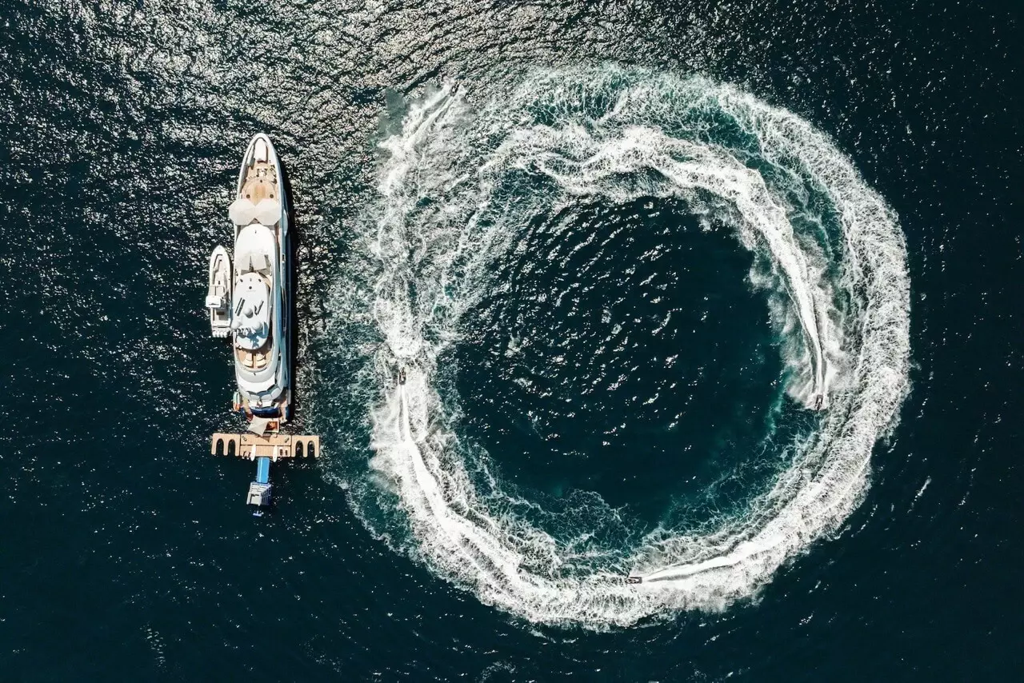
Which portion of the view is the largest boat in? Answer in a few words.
left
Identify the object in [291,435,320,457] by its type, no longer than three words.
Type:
pier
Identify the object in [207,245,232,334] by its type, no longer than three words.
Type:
boat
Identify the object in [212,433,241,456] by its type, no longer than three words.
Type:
pier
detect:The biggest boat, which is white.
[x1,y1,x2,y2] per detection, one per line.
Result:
[234,132,293,432]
